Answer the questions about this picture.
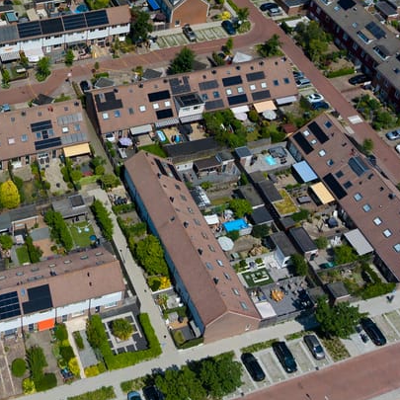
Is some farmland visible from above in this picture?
No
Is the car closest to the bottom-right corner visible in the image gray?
No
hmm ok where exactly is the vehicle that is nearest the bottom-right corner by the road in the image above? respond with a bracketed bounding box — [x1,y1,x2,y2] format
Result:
[361,320,388,347]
